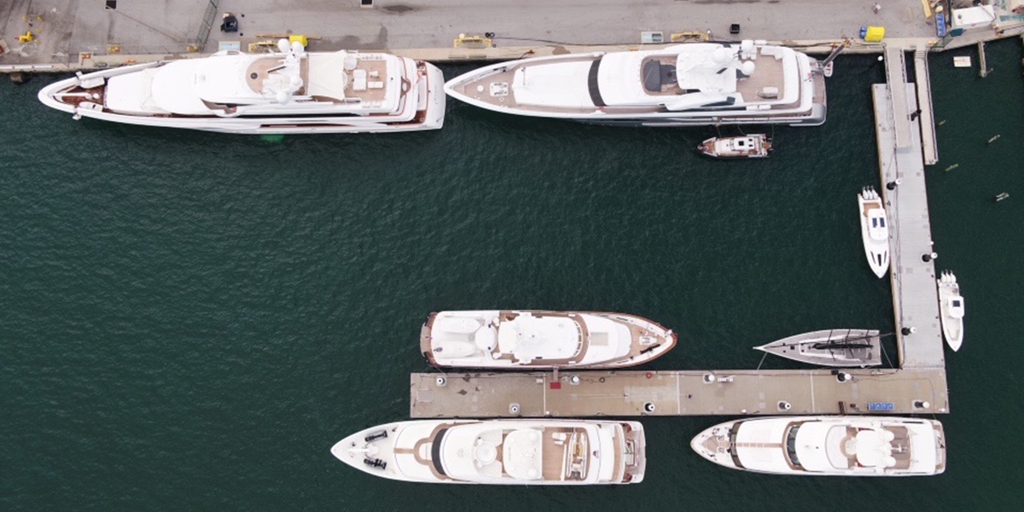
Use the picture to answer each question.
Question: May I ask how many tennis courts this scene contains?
0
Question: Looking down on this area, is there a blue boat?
No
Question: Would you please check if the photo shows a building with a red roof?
No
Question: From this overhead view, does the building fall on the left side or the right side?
right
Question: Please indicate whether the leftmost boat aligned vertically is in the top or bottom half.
bottom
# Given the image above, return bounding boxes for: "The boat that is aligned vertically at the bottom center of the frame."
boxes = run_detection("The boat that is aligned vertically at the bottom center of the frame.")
[566,430,588,478]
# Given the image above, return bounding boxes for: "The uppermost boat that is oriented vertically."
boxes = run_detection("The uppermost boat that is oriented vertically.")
[855,188,888,279]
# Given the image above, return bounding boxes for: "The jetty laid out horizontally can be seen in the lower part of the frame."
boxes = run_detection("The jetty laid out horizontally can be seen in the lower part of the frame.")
[410,368,948,419]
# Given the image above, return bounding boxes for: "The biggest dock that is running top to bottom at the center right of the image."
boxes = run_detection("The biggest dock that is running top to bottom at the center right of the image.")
[870,84,947,369]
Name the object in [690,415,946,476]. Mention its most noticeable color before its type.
white boat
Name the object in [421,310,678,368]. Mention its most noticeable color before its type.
white boat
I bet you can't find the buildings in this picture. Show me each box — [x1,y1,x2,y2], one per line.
[945,2,995,34]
